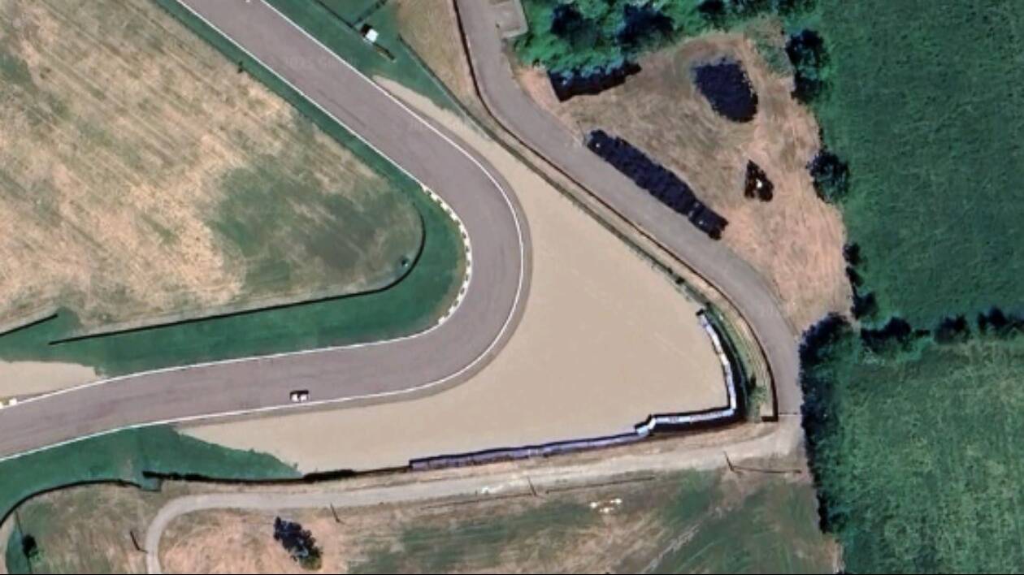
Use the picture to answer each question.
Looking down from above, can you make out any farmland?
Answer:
Yes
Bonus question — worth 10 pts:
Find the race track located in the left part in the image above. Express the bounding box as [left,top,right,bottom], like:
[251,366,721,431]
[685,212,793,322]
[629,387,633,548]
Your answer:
[0,0,524,462]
